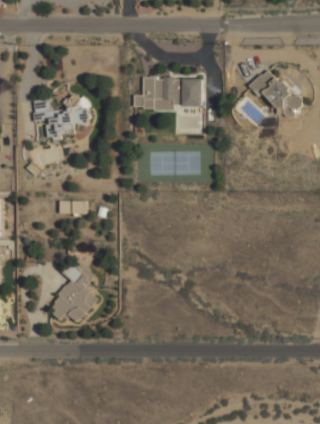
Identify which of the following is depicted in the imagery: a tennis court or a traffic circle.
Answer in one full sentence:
There is a tennis court in the scene.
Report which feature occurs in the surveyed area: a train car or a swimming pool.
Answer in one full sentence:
It is a swimming pool that can be seen here.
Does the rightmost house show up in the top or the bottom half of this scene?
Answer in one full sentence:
The rightmost house is in the top half of the image.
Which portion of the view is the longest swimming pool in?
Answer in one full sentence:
The longest swimming pool is located in the top right region of the scene.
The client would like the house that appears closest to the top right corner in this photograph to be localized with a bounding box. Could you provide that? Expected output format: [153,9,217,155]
[248,70,302,118]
